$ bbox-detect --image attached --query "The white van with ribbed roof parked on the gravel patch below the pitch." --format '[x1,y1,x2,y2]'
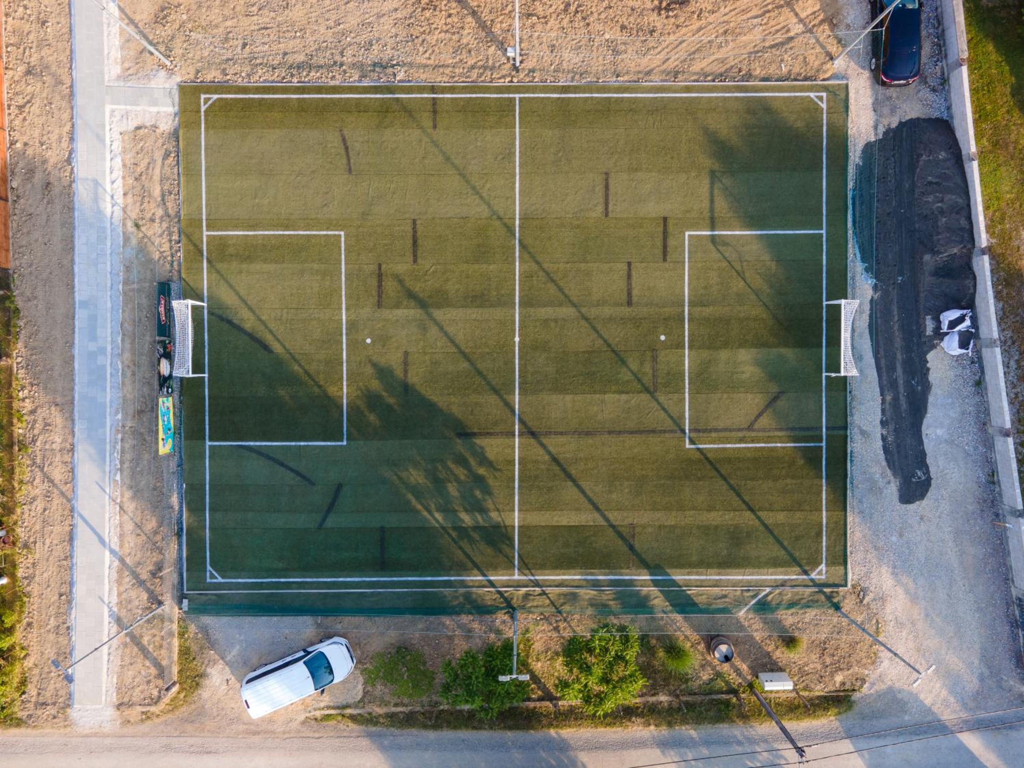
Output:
[242,637,357,718]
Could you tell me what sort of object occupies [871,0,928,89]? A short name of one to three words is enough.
car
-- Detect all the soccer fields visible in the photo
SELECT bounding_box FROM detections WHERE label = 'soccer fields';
[178,81,864,615]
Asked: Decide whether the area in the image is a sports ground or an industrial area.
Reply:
sports ground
